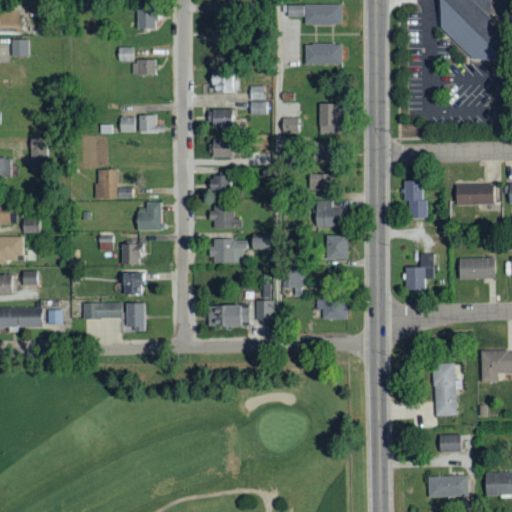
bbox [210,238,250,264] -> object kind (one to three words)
house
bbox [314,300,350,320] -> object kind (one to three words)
house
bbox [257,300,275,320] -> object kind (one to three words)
building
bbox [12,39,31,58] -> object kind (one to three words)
building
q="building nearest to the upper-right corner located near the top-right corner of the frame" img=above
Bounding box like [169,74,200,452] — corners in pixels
[444,0,492,64]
